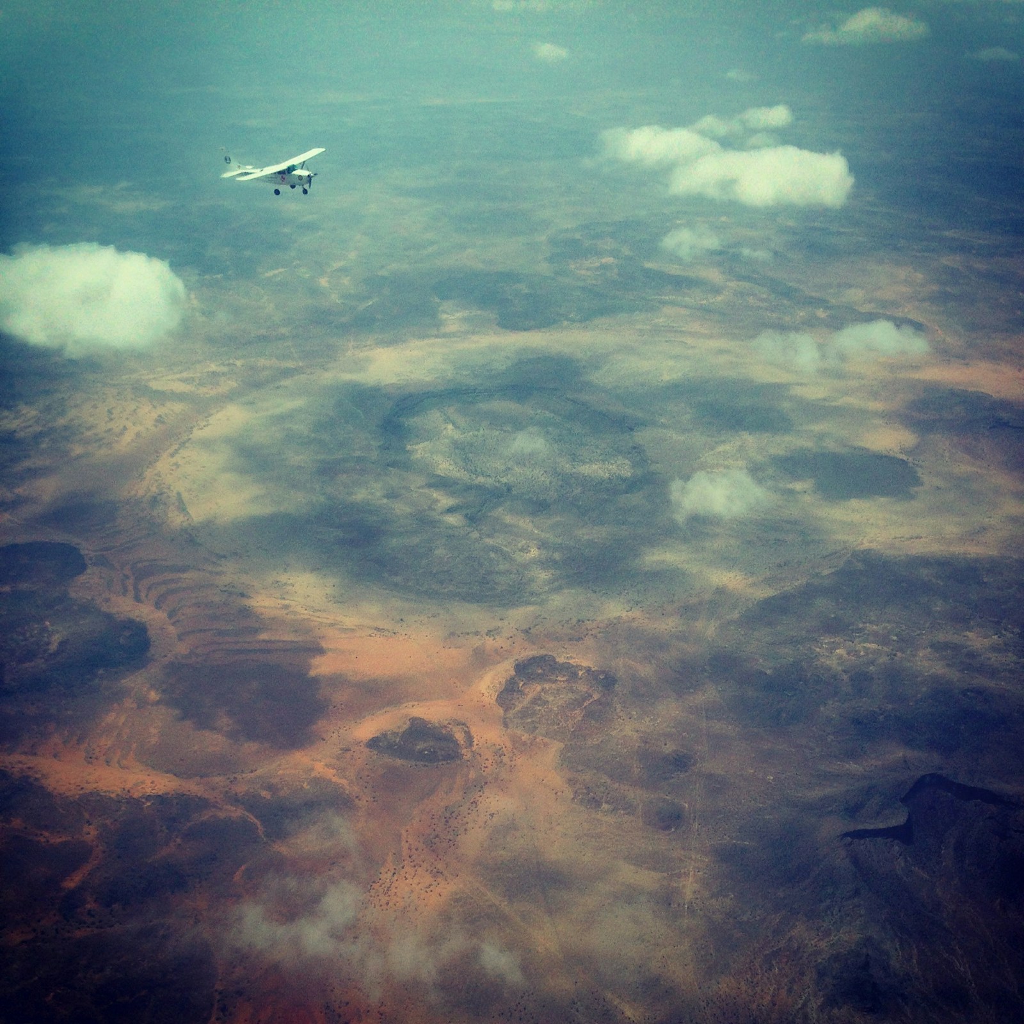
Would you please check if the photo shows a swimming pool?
No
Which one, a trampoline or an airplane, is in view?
airplane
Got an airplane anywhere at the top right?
No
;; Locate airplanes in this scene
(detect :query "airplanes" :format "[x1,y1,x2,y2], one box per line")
[218,149,328,196]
